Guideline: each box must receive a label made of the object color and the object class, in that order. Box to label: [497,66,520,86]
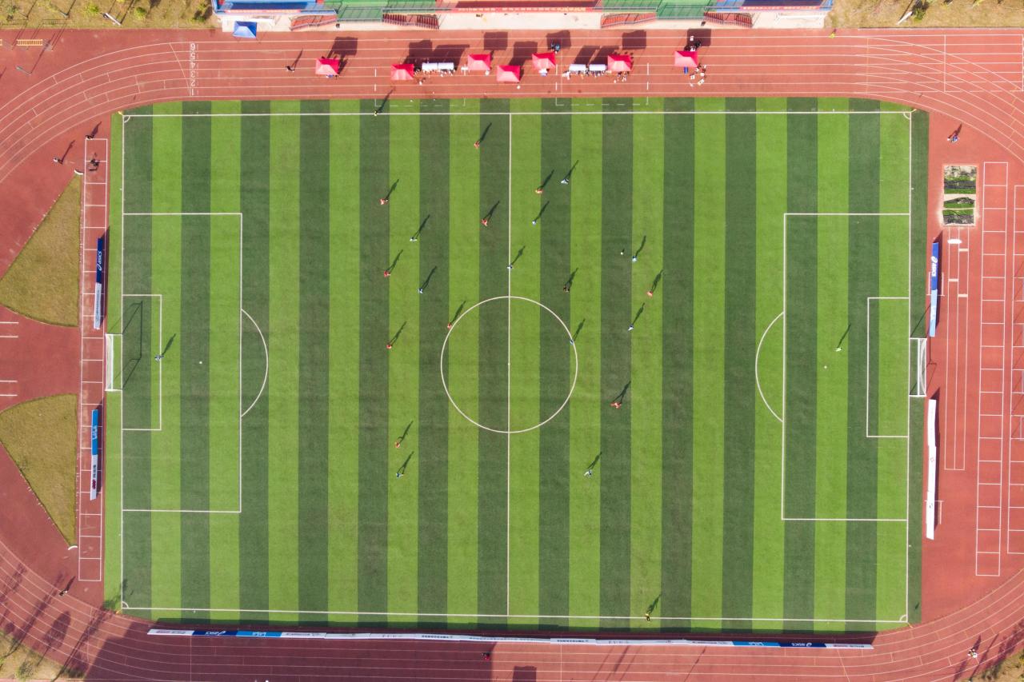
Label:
red tent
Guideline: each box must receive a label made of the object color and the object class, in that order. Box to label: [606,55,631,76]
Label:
red tent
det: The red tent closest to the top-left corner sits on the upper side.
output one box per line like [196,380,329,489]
[316,59,342,79]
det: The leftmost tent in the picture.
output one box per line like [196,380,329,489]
[234,21,261,42]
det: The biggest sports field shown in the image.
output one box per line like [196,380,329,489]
[104,64,929,637]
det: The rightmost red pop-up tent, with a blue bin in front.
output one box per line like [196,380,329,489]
[672,51,698,71]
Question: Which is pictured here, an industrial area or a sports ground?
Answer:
sports ground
